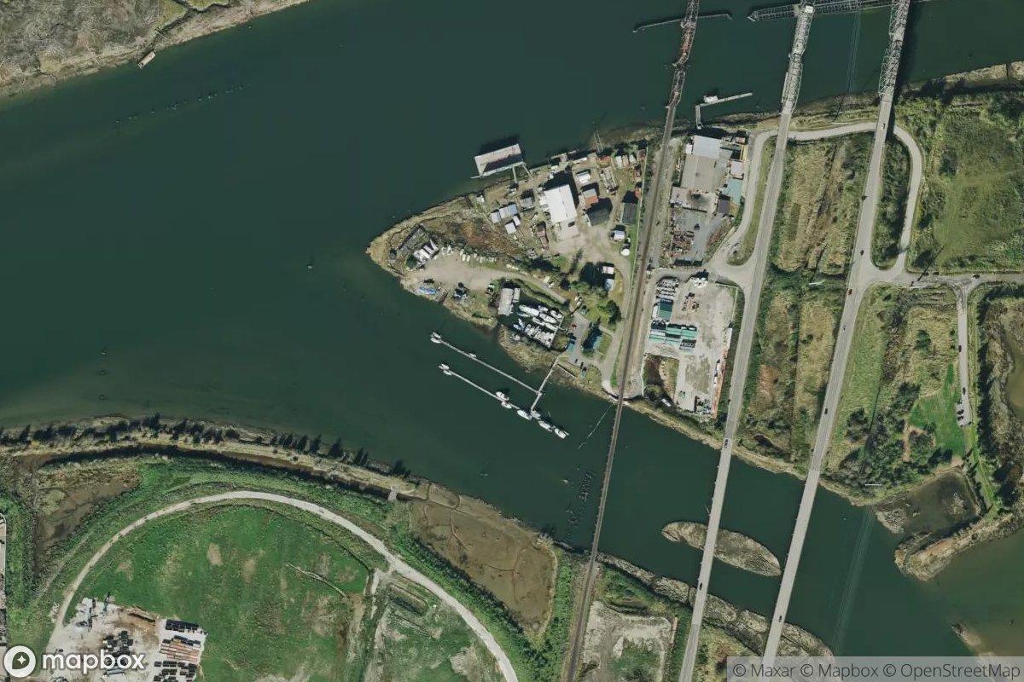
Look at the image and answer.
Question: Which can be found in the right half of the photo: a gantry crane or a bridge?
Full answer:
It is a bridge that can be seen in the right half of the photo.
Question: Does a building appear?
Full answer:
Yes, the image includes a building.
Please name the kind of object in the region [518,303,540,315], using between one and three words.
boat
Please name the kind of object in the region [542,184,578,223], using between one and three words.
shed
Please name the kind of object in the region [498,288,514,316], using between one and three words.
building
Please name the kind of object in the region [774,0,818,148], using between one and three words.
bridge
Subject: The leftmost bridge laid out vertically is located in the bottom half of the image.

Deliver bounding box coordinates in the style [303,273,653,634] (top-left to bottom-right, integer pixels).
[587,398,624,559]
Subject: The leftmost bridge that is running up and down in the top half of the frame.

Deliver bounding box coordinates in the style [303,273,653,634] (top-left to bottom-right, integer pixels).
[664,0,694,125]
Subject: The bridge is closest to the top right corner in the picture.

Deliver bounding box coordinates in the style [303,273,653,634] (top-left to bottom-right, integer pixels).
[874,0,915,139]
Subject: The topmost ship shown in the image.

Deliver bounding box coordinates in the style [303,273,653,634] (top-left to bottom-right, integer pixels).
[138,50,156,67]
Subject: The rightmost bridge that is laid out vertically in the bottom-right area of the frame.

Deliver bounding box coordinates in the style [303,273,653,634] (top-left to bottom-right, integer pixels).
[758,470,821,682]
